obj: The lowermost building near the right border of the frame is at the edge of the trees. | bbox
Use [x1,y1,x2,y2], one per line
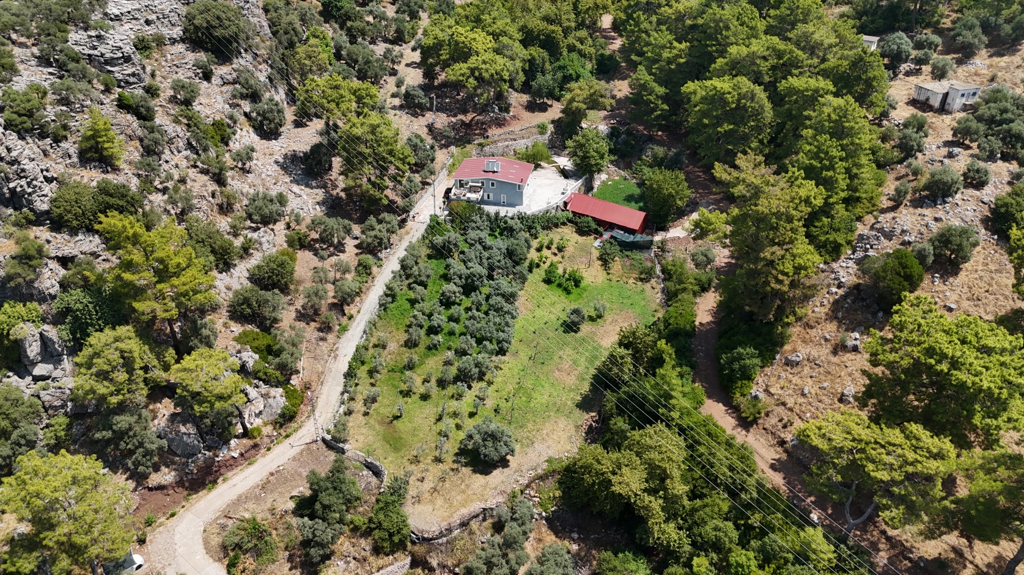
[910,81,981,117]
